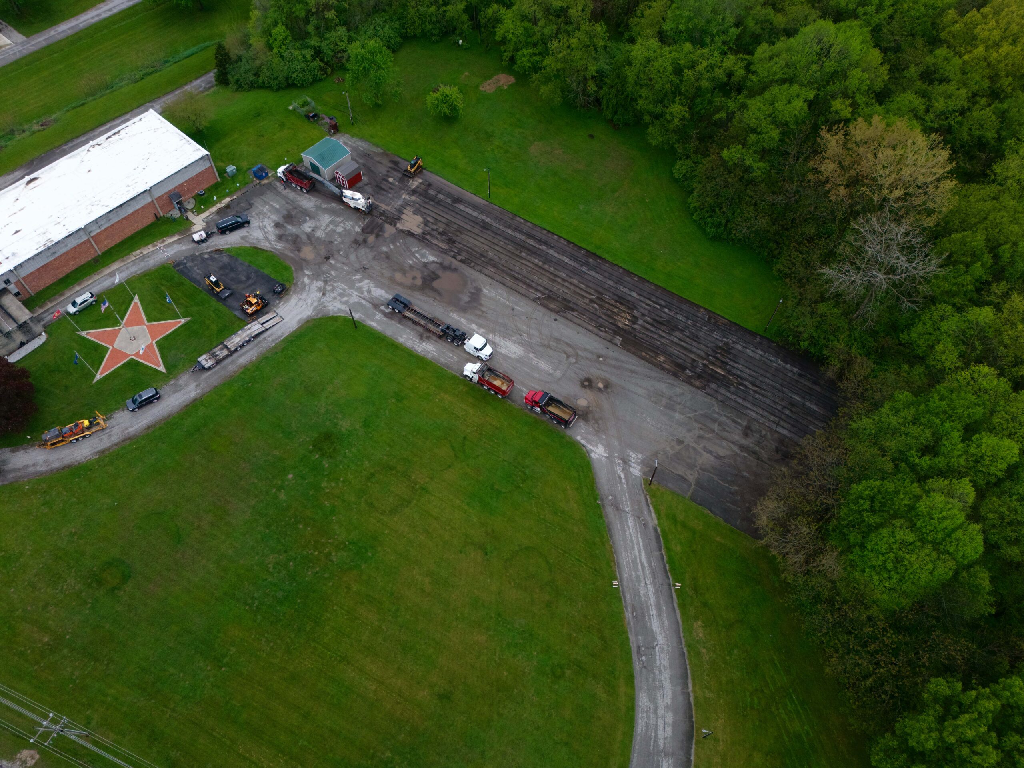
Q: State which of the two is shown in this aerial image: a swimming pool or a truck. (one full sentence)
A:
Of the two, only a truck appears.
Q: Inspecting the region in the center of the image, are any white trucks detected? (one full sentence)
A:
Yes, the scene does show a white truck in the center of the image.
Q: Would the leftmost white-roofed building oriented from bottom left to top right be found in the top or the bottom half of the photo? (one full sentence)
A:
The leftmost white-roofed building oriented from bottom left to top right sits in the top half of the picture.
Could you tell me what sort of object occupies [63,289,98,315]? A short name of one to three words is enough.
car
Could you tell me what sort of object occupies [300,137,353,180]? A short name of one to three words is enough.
shed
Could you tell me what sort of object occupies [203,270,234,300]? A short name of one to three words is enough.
work vehicle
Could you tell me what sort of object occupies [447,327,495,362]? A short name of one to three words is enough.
truck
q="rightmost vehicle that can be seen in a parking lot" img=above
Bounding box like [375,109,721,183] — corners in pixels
[522,390,579,429]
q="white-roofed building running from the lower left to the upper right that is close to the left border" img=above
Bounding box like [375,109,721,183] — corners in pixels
[0,106,221,338]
